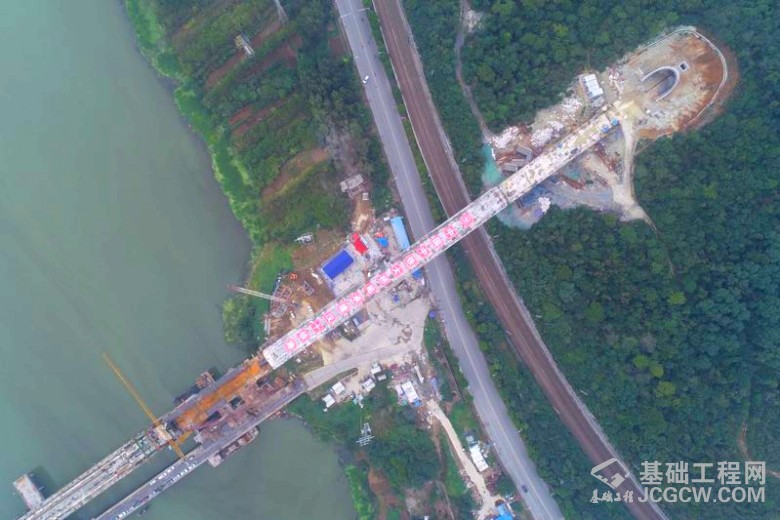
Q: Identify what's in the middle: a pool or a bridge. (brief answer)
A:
bridge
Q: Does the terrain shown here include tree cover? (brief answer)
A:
Yes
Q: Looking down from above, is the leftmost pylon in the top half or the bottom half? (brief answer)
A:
top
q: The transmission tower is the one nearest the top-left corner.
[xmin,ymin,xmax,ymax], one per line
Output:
[235,29,257,59]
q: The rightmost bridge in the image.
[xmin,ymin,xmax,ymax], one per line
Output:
[262,100,628,369]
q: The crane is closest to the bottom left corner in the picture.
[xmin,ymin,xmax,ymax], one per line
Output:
[101,352,193,460]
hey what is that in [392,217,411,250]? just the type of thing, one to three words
shed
